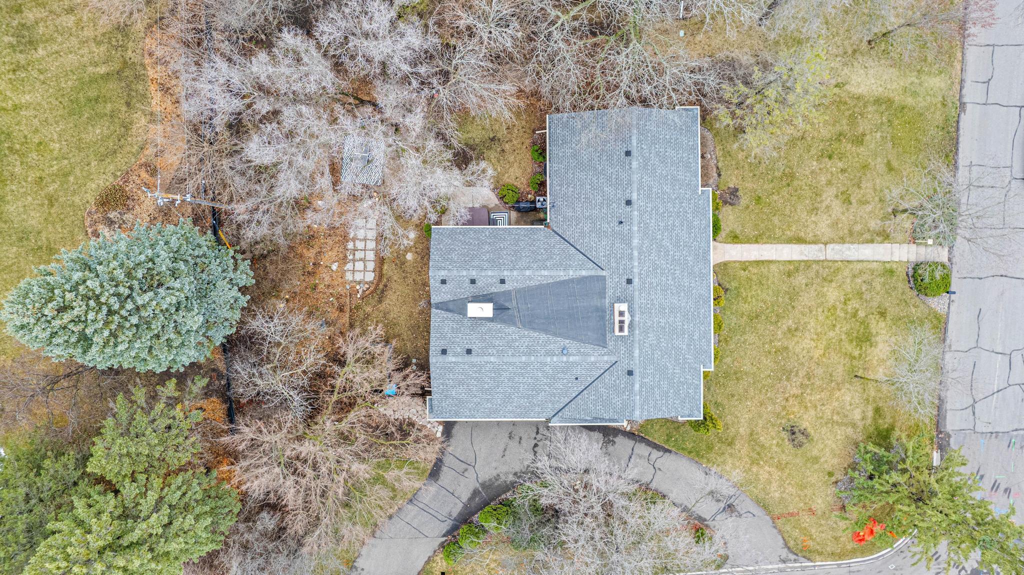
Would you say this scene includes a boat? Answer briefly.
No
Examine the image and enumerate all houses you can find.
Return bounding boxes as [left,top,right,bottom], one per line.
[426,105,714,426]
